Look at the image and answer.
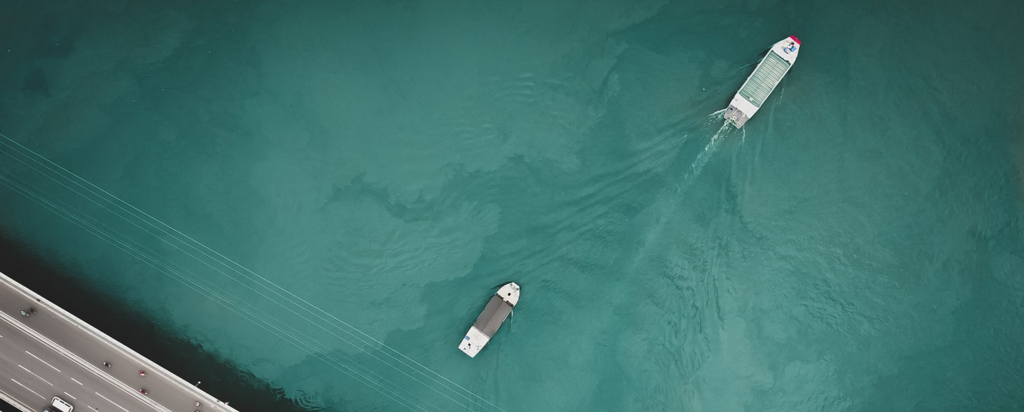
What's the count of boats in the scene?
2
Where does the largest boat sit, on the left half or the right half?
right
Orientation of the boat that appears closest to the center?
diagonally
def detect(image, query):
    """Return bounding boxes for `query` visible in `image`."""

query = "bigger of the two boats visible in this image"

[723,34,801,129]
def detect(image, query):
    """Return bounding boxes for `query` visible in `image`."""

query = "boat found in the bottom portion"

[458,282,520,358]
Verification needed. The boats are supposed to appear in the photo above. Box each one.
[723,34,801,129]
[458,282,520,358]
